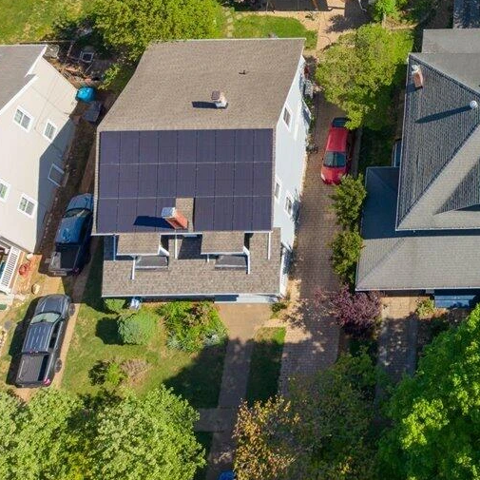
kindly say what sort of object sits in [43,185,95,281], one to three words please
truck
